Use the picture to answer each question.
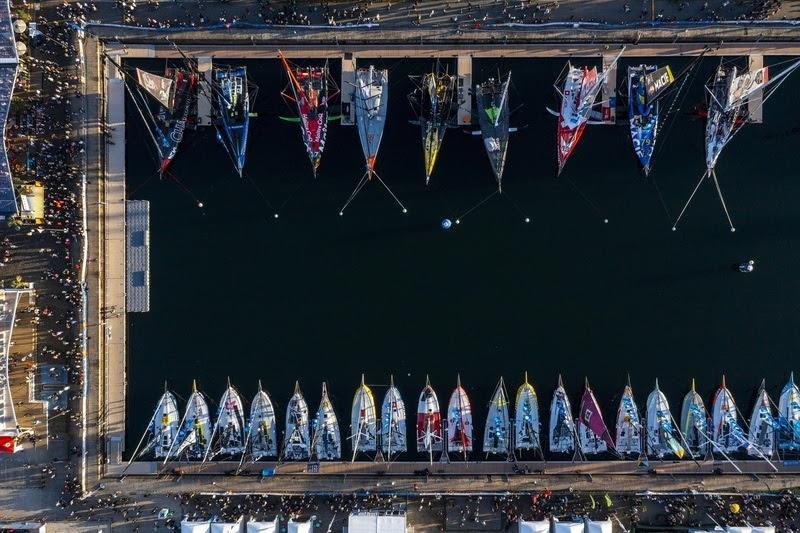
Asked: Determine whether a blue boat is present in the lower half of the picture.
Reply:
Yes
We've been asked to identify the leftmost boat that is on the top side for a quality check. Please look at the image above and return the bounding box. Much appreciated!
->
[101,47,205,203]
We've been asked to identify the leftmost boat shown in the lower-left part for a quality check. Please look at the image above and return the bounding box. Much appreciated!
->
[121,380,182,477]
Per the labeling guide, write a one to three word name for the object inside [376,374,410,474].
boat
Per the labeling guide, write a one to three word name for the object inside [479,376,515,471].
boat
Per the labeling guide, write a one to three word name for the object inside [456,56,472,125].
pier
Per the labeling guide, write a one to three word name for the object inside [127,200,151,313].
pier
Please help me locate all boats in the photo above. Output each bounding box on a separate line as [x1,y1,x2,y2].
[547,43,626,220]
[644,378,704,471]
[412,374,444,470]
[773,372,800,461]
[121,380,182,477]
[542,375,586,467]
[460,66,527,220]
[275,381,314,475]
[747,379,800,463]
[341,63,404,212]
[446,374,473,474]
[159,381,216,478]
[611,375,662,468]
[404,54,466,185]
[677,379,744,477]
[479,376,515,471]
[622,43,712,202]
[577,377,625,463]
[278,47,346,179]
[673,61,800,228]
[170,36,274,211]
[345,374,383,467]
[236,380,284,479]
[708,376,779,477]
[376,374,410,474]
[306,382,345,475]
[733,261,755,272]
[101,47,205,203]
[196,376,248,477]
[509,372,547,467]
